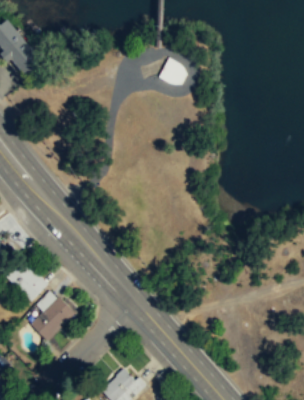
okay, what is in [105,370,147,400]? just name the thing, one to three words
house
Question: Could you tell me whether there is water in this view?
Yes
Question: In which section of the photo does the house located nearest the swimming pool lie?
bottom left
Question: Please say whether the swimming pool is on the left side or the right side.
left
